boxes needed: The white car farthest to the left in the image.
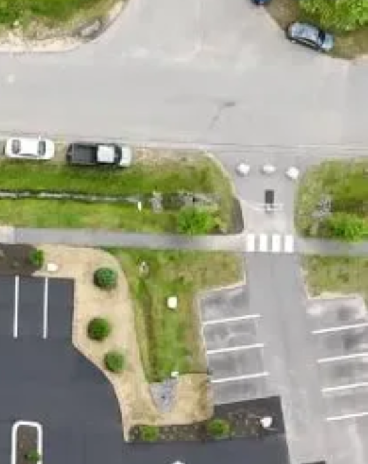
[4,134,53,160]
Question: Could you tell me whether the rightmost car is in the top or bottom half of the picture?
top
